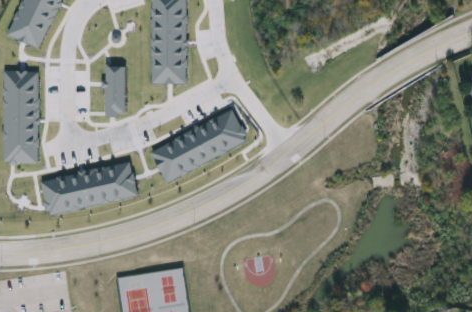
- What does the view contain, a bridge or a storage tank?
bridge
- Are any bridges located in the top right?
Yes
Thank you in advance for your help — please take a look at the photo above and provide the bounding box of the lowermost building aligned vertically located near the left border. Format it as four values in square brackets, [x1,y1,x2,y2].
[4,68,40,166]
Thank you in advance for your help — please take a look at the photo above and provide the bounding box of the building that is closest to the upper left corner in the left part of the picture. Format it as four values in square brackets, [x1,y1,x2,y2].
[9,0,62,48]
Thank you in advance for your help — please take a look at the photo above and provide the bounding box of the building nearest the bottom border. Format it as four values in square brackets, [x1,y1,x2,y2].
[40,156,139,214]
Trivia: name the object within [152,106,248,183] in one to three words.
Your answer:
building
